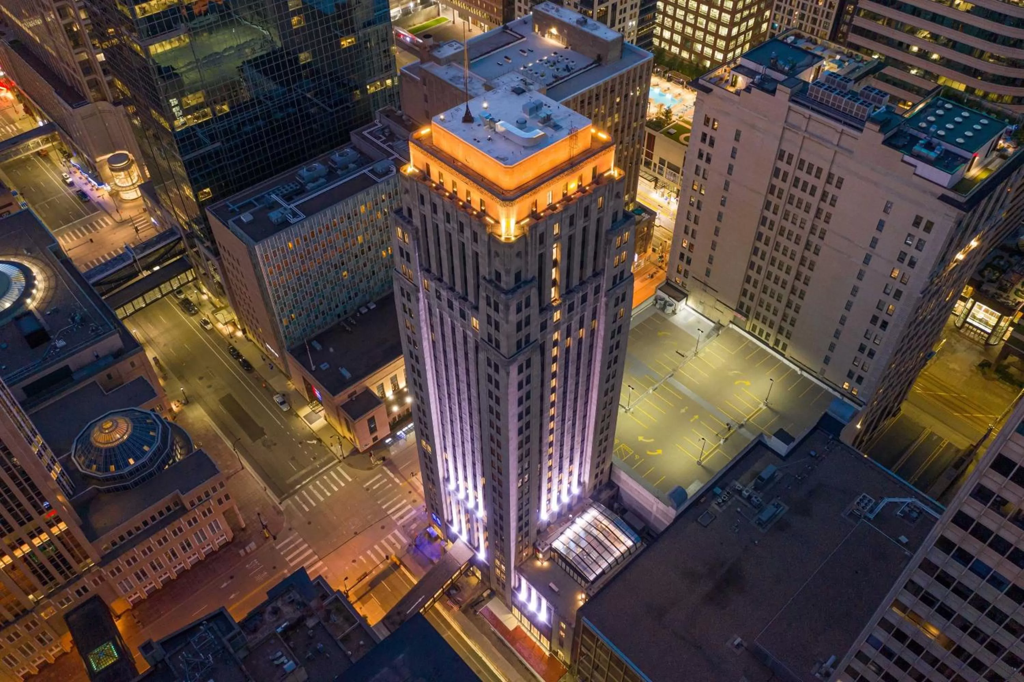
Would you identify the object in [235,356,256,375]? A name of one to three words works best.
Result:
car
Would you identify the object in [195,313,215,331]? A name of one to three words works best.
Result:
car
